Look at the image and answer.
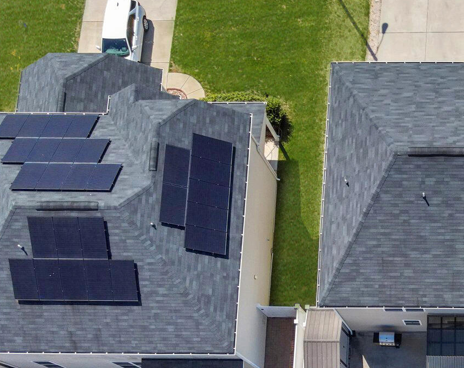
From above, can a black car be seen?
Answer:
No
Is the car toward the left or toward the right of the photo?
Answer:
left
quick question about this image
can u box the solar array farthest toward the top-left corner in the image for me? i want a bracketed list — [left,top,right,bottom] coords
[0,115,122,191]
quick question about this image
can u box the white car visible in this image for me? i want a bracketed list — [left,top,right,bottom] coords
[97,1,147,64]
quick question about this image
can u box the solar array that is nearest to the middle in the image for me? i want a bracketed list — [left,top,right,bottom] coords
[159,133,234,256]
